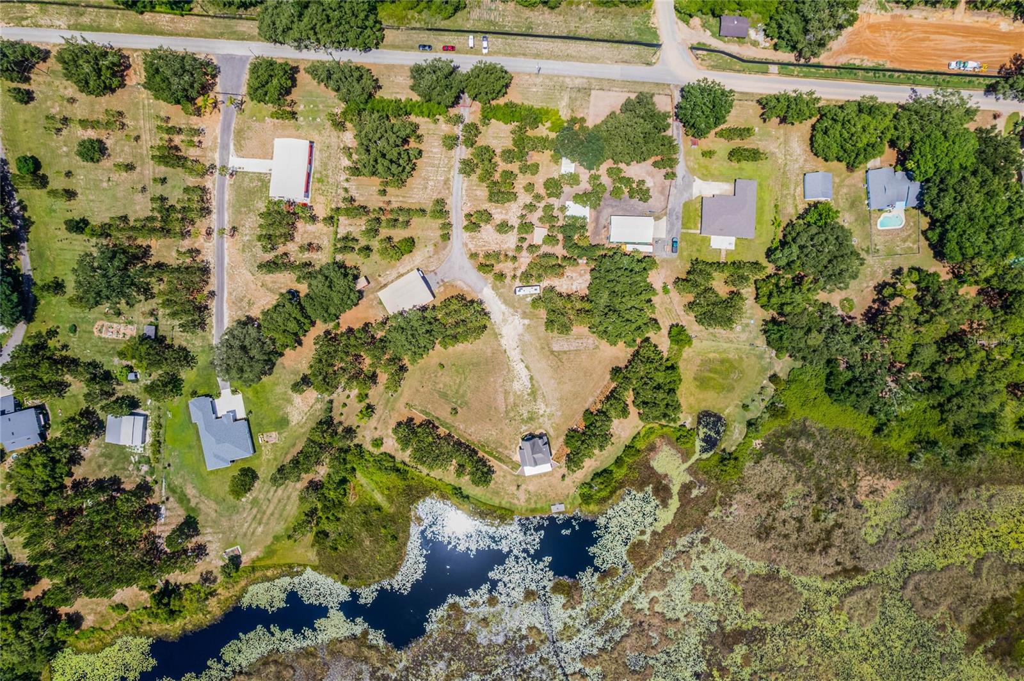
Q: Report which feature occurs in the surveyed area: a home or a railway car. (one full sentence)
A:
This aerial view contains a home.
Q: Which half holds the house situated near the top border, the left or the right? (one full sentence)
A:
It is on the right.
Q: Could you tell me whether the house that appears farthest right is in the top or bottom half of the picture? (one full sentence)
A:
The house that appears farthest right is in the top half of the image.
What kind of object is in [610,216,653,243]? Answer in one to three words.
barn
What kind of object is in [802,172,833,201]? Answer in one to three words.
shed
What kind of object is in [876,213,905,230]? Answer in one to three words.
swimming pool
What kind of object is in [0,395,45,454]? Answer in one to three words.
house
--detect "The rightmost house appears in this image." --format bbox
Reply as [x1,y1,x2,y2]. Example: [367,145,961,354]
[864,166,920,209]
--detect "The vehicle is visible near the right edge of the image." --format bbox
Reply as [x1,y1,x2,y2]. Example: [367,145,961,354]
[946,59,985,72]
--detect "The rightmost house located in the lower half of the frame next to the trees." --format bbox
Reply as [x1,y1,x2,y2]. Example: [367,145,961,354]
[519,432,555,476]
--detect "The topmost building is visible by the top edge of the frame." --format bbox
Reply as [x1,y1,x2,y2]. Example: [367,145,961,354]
[719,15,749,40]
